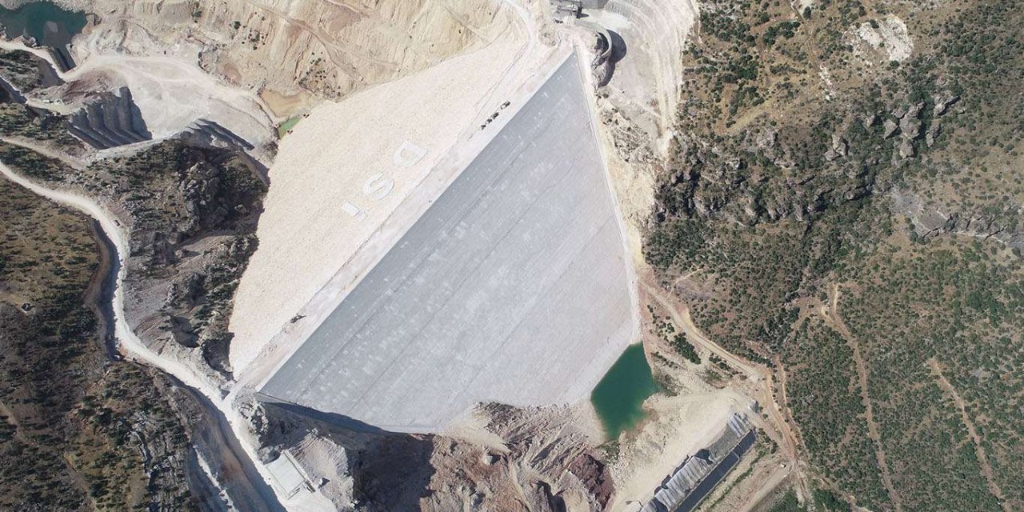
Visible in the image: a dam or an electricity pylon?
dam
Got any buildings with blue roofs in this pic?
No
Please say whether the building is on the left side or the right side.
left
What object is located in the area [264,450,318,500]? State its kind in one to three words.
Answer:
building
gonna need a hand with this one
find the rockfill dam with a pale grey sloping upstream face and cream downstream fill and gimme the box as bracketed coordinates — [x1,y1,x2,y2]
[227,29,645,432]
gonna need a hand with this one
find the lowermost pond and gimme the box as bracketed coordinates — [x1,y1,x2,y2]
[593,335,661,441]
